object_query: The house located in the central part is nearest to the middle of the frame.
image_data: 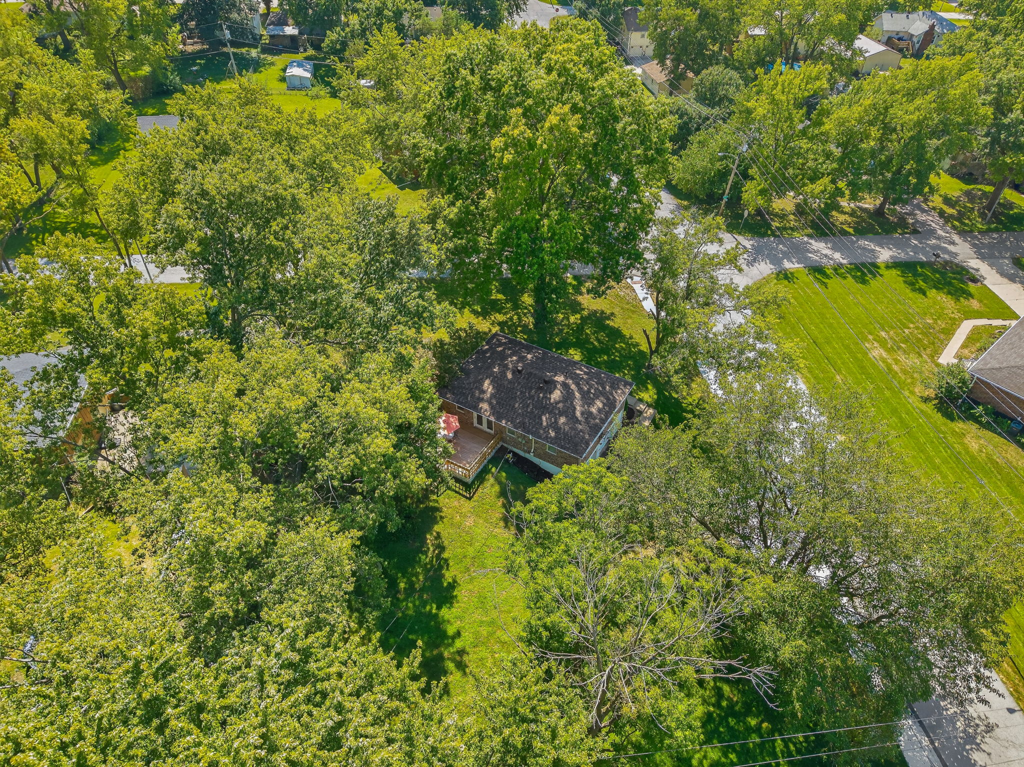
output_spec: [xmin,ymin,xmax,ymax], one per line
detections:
[441,331,633,479]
